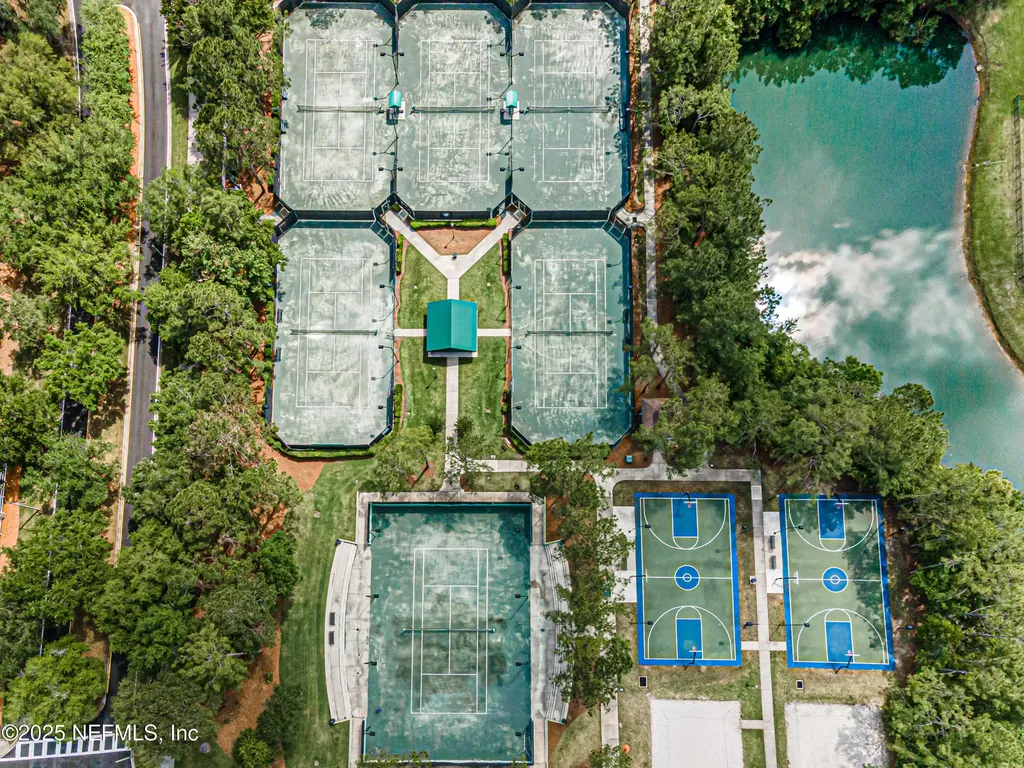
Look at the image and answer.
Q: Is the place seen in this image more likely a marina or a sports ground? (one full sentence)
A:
What you see here is a sports ground.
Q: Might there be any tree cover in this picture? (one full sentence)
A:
Yes, there's tree cover in this view.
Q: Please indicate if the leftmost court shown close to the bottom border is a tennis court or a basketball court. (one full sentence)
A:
I'd identify the leftmost court shown close to the bottom border as a tennis court.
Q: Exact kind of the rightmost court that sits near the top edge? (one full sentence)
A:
In the photo, the rightmost court that sits near the top edge shows up as a tennis court.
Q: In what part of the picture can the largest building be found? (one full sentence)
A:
The largest building appears toward the center of the photo.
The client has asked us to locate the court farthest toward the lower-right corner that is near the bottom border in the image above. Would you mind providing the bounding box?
[785,704,886,768]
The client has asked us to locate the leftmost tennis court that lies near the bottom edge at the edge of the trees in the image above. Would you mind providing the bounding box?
[365,505,534,762]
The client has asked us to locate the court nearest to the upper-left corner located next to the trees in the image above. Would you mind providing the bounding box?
[280,4,396,213]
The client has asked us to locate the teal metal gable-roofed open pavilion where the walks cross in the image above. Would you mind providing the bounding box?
[427,300,478,357]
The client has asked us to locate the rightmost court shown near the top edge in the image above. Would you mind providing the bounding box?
[512,5,627,213]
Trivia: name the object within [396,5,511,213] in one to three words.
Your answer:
tennis court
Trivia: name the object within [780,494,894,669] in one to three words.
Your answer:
basketball court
